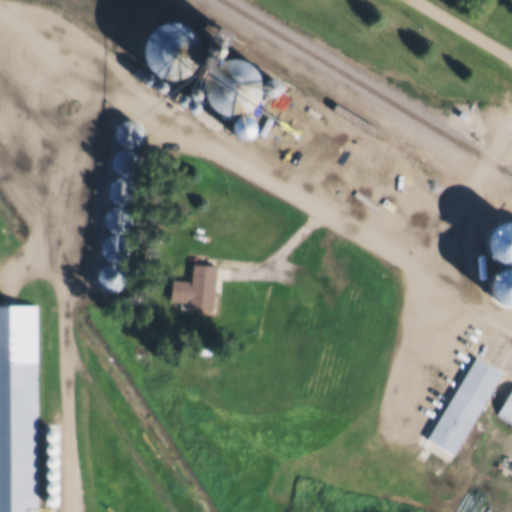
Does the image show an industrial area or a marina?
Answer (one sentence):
This looks like an industrial area.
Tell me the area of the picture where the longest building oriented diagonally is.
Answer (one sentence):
The longest building oriented diagonally appears toward the bottom right of the photo.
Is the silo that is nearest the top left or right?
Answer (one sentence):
It is on the left.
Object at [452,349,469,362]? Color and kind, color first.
white vehicle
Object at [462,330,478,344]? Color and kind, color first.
white vehicle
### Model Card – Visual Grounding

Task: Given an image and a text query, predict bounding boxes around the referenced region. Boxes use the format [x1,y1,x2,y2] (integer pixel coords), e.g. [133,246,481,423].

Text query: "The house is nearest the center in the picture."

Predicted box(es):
[172,266,216,314]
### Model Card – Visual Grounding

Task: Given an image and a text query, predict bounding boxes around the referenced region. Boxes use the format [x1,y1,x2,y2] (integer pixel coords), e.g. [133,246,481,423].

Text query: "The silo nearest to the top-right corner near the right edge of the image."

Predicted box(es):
[489,220,512,266]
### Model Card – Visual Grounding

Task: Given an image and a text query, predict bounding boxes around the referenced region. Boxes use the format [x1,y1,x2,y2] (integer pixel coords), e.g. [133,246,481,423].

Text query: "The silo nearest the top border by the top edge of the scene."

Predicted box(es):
[139,24,200,80]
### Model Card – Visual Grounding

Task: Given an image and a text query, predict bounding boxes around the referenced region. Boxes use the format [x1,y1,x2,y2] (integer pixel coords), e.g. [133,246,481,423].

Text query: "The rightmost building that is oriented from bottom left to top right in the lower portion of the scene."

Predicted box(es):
[426,360,501,460]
